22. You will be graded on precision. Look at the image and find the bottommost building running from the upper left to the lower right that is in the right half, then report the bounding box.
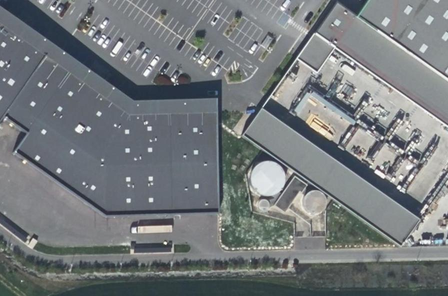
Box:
[244,109,420,245]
